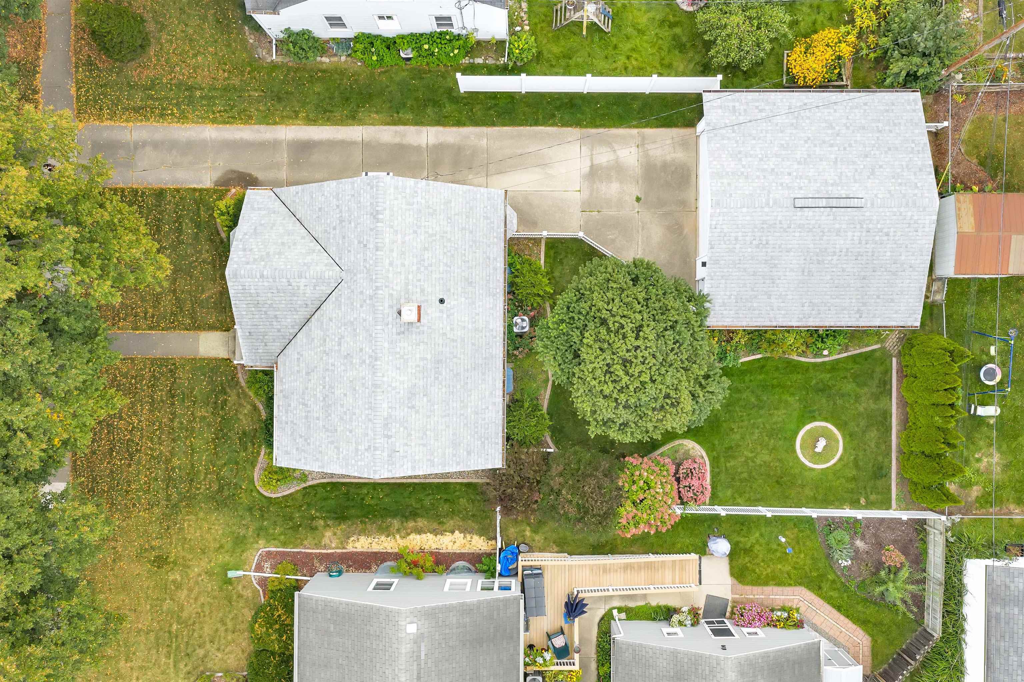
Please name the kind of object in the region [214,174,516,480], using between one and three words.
house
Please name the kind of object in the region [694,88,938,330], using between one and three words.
building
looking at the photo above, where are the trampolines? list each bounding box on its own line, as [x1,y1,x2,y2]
[980,364,1001,385]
